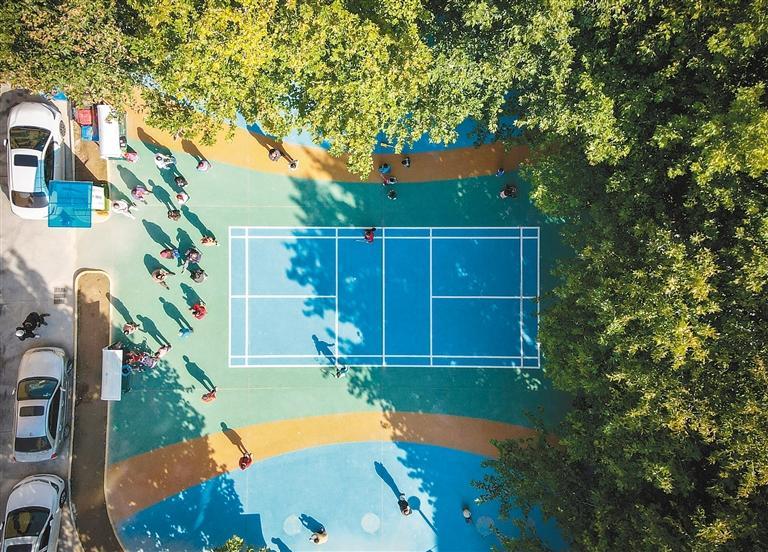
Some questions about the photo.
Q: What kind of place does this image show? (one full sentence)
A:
This looks like a sports ground.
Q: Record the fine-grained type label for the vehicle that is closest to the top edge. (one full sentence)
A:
The vehicle that is closest to the top edge can be classified as an automobile.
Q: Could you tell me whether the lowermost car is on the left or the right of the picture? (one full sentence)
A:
The lowermost car sits on the left side.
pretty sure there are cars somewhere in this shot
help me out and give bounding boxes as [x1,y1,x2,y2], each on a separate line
[5,472,66,552]
[2,104,63,220]
[12,347,72,461]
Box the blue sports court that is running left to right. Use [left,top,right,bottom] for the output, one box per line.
[229,226,540,367]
